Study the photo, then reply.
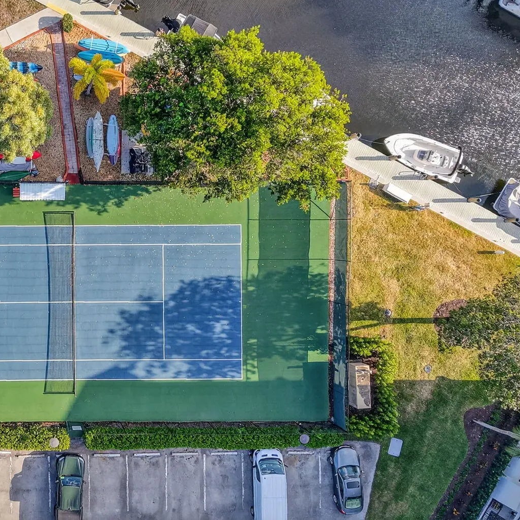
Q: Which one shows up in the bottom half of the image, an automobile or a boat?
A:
automobile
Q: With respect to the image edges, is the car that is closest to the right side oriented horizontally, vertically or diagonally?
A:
vertically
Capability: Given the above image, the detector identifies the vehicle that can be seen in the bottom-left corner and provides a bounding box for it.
[54,454,87,520]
